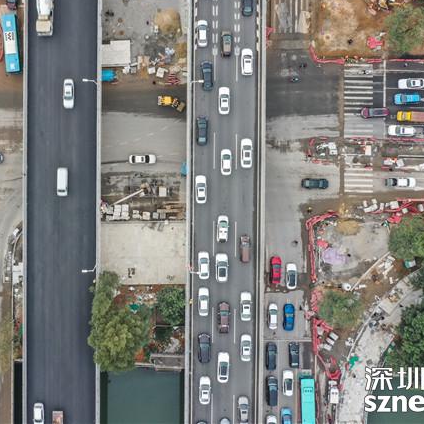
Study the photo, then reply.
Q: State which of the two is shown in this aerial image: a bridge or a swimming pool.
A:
bridge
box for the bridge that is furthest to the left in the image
[23,0,102,424]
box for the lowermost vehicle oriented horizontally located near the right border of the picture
[385,176,415,190]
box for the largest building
[102,45,131,69]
